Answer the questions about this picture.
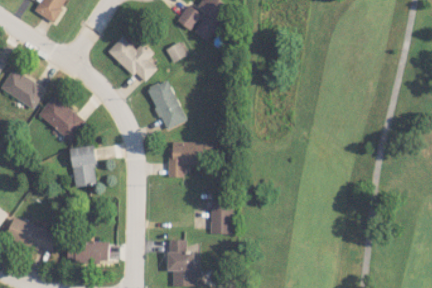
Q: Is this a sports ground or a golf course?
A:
golf course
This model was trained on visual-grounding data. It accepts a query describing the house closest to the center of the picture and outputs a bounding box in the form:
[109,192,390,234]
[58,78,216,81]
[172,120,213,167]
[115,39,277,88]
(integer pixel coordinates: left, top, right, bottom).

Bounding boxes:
[172,143,215,178]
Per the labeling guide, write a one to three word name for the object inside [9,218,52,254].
house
